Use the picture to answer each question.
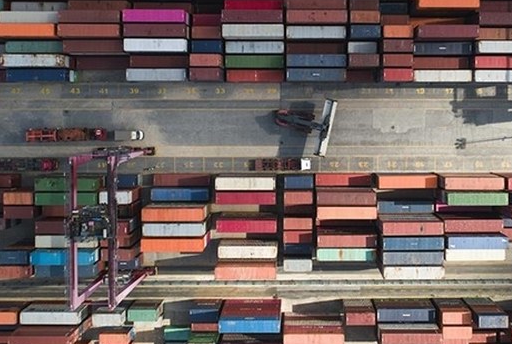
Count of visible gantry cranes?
one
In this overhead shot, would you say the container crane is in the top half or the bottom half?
bottom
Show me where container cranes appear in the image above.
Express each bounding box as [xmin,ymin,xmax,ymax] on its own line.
[60,147,164,308]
